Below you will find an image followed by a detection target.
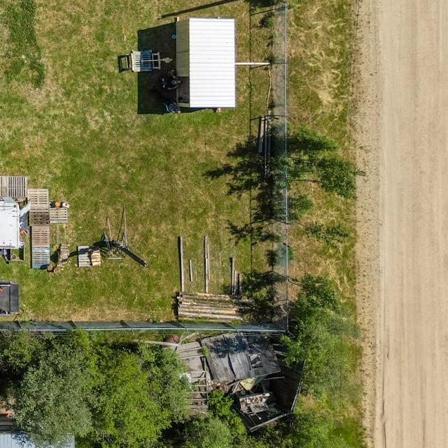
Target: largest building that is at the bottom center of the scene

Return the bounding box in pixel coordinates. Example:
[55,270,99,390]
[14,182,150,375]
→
[201,332,303,433]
